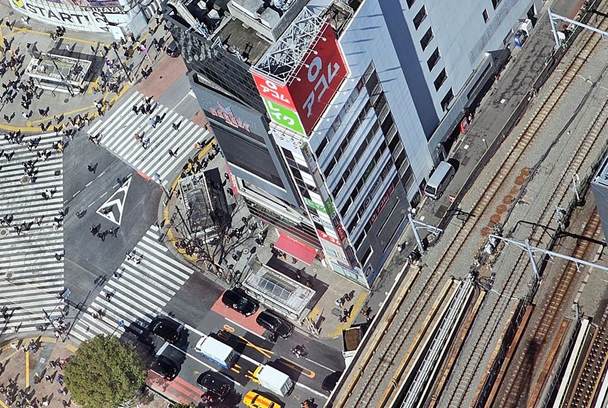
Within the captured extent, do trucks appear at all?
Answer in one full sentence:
Yes, a truck appears in the view.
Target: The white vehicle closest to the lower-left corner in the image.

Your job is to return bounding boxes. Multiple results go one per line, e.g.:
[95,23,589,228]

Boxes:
[193,333,238,369]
